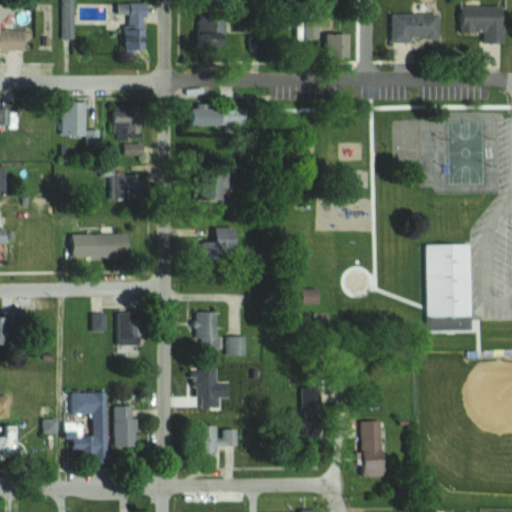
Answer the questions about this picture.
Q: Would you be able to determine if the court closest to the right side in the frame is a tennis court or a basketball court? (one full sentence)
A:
What you see as the court closest to the right side is a basketball court.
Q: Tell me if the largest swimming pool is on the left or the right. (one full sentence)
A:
The largest swimming pool appears in the left half of the scene.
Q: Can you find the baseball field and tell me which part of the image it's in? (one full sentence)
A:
The baseball field is located in the bottom right region of the scene.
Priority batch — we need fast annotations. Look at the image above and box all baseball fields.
[418,352,512,496]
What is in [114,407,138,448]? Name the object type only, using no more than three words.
house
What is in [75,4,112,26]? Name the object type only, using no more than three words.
swimming pool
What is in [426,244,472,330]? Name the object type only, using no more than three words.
building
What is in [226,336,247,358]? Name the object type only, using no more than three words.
building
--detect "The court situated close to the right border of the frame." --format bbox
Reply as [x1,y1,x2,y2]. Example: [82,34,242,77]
[392,112,499,194]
